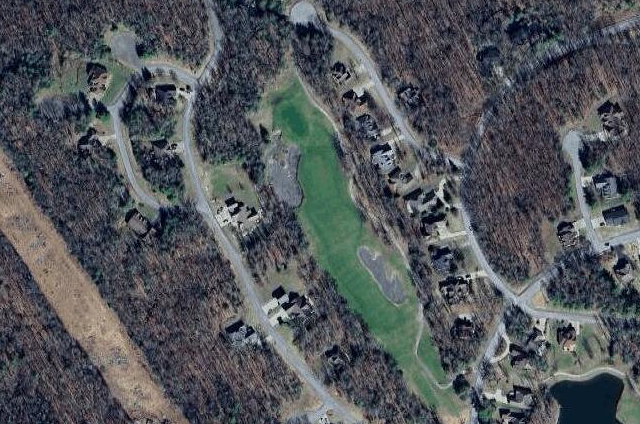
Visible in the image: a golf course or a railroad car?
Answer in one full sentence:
I can see a golf course in this picture.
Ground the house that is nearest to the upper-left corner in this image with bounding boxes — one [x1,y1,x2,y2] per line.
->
[81,61,113,94]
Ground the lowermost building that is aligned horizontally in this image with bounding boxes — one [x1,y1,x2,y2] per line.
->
[496,408,530,424]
